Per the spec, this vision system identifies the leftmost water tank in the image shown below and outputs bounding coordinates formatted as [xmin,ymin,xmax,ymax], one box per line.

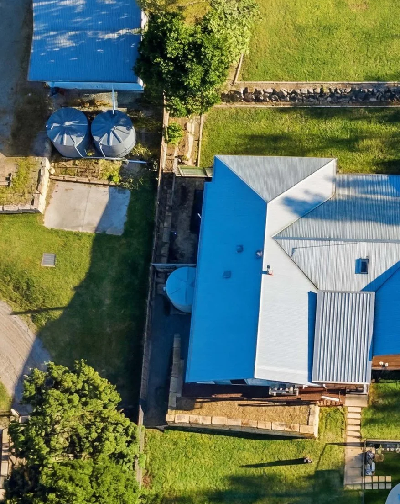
[47,109,98,158]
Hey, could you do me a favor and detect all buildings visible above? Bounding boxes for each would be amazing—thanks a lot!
[27,0,164,115]
[182,154,400,403]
